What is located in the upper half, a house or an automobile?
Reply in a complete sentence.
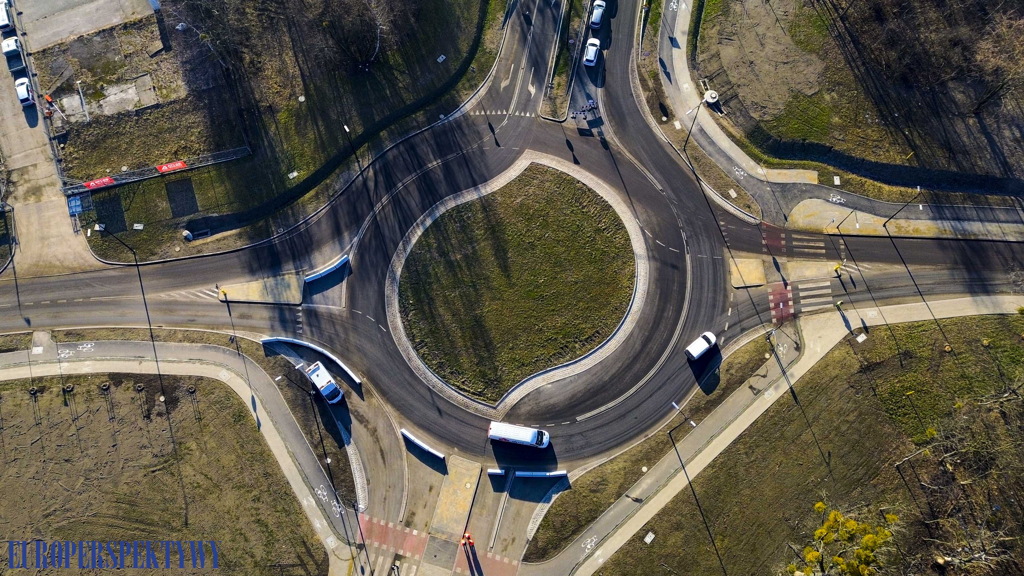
The feature located in the upper half is an automobile.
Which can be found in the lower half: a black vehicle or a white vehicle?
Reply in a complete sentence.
The one visible in the lower half is a white vehicle.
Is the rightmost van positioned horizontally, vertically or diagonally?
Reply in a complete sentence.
In this picture, the rightmost van is oriented diagonally.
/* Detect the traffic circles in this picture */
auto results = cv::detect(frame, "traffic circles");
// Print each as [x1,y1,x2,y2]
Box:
[327,35,713,549]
